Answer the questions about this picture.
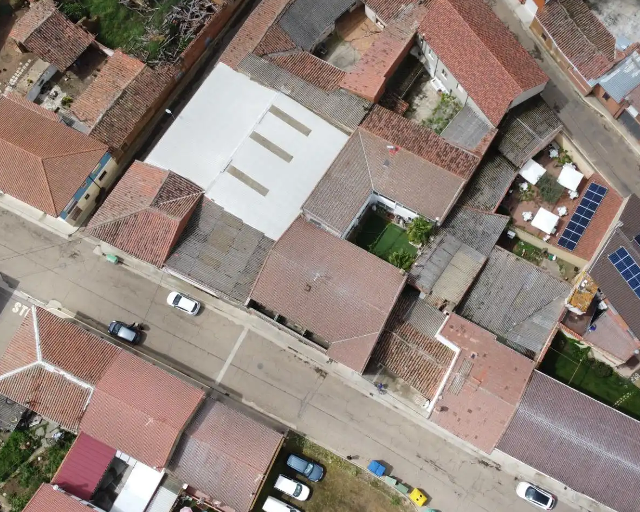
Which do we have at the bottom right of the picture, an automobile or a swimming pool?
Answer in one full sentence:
The one visible at the bottom right of the picture is an automobile.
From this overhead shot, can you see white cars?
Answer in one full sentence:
Yes, there's a white car down there.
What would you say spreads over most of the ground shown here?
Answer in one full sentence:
For the most part, this view shows buildings.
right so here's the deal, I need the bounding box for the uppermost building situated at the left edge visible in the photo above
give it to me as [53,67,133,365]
[9,0,99,78]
